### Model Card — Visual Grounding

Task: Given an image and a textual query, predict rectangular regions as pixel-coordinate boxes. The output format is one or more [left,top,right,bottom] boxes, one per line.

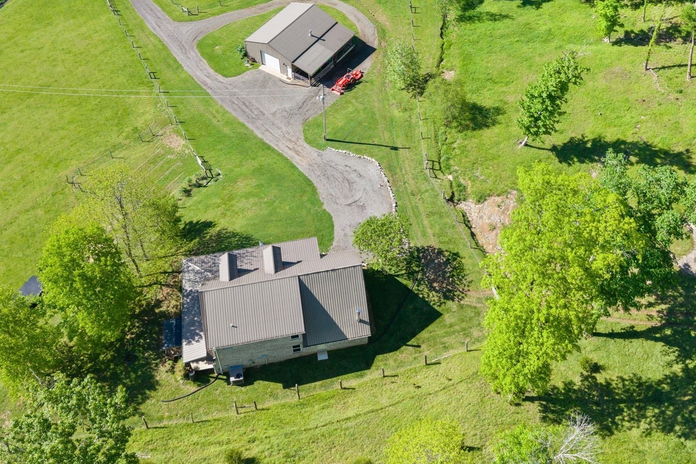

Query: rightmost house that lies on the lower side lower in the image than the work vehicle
[182,235,371,374]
